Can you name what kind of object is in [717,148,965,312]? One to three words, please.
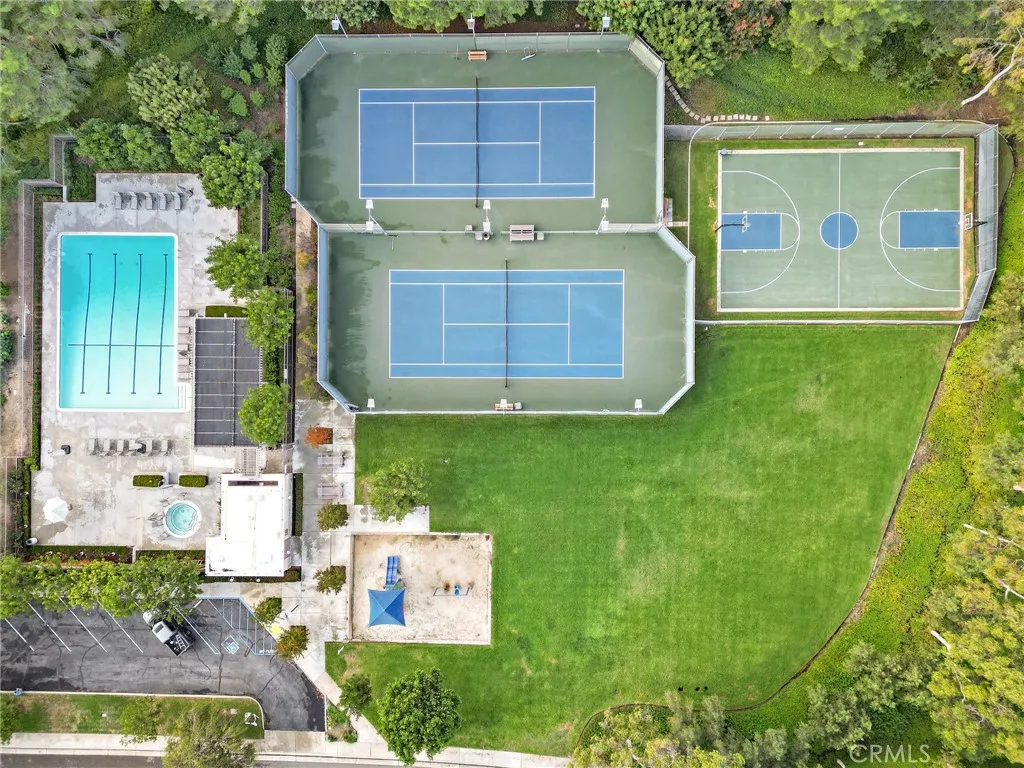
basketball court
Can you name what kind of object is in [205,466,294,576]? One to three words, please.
building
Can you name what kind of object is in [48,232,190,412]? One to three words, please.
swimming pool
